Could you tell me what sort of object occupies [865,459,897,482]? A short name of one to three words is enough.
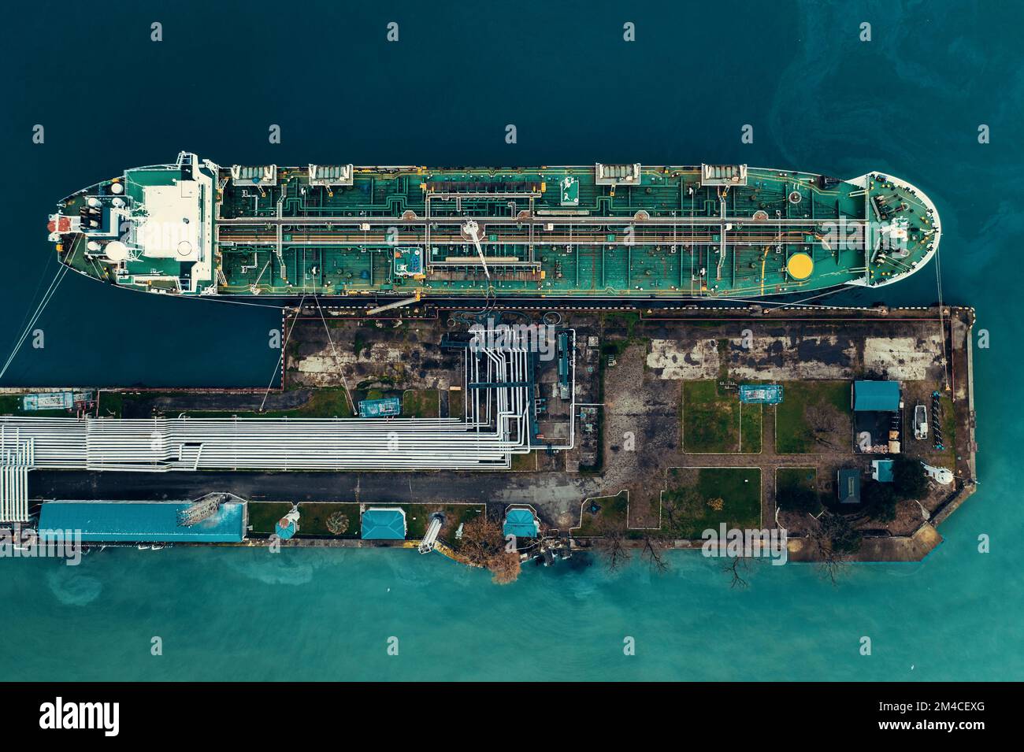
building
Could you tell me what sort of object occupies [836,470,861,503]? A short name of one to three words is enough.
house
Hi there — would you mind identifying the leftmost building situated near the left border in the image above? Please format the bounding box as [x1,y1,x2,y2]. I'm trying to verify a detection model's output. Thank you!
[0,492,248,547]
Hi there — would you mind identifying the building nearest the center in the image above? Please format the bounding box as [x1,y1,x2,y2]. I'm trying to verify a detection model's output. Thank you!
[504,508,540,537]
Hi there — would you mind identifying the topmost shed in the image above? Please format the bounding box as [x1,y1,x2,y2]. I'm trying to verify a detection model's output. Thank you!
[849,381,906,411]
